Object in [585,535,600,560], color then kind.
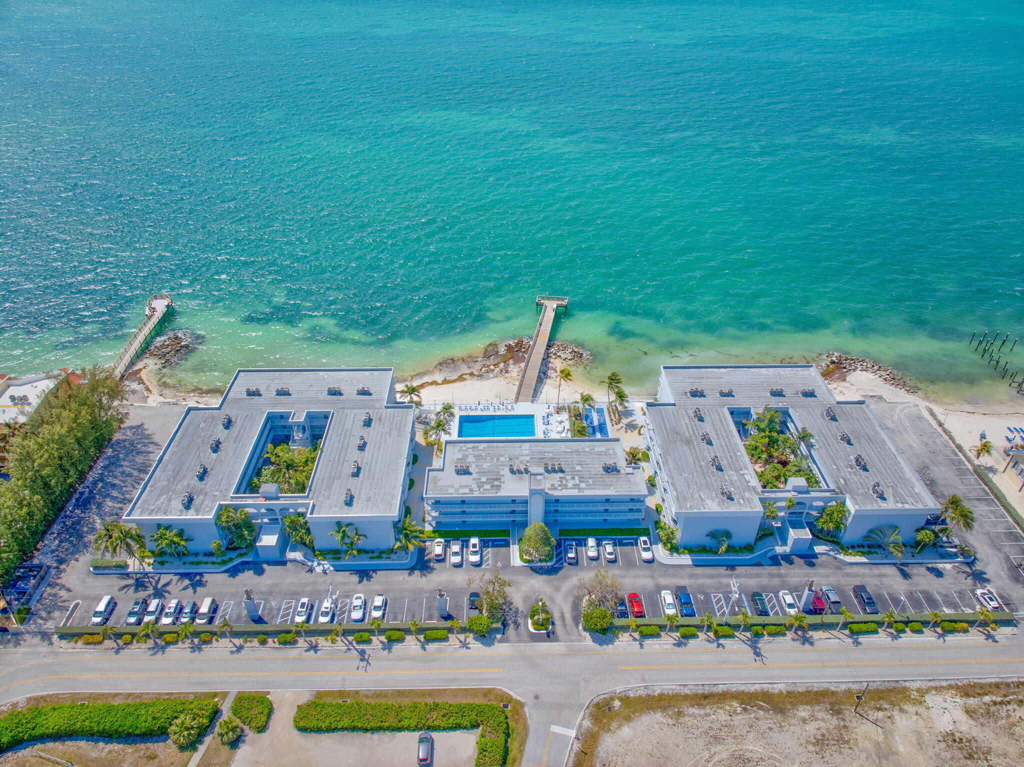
white car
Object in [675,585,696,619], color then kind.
blue truck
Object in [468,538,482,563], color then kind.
white car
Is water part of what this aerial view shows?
Yes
